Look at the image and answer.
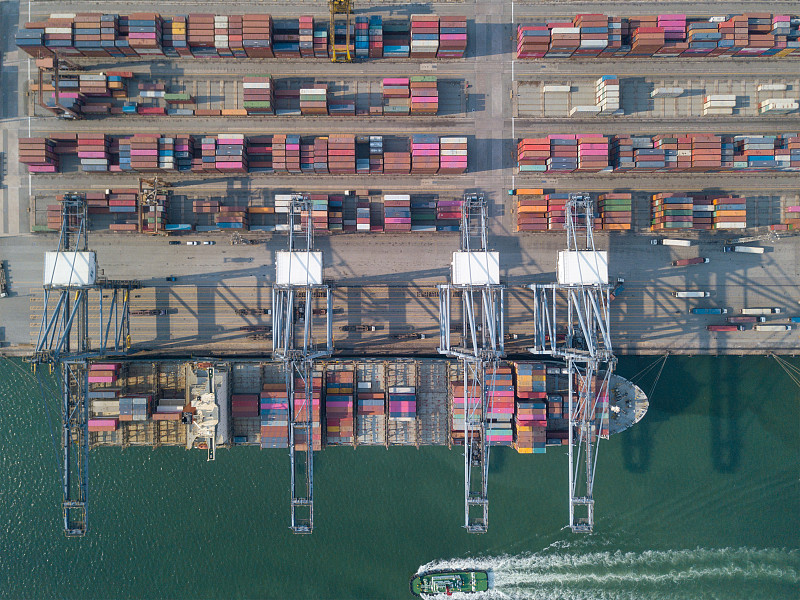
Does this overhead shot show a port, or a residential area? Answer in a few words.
port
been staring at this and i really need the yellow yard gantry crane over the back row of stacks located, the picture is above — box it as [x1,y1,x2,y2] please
[323,0,354,62]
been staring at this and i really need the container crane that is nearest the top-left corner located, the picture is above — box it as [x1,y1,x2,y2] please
[38,43,91,120]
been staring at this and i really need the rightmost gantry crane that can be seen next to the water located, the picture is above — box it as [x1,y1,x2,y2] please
[517,188,619,537]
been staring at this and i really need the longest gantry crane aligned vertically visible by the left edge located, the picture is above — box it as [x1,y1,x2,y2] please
[22,189,160,537]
